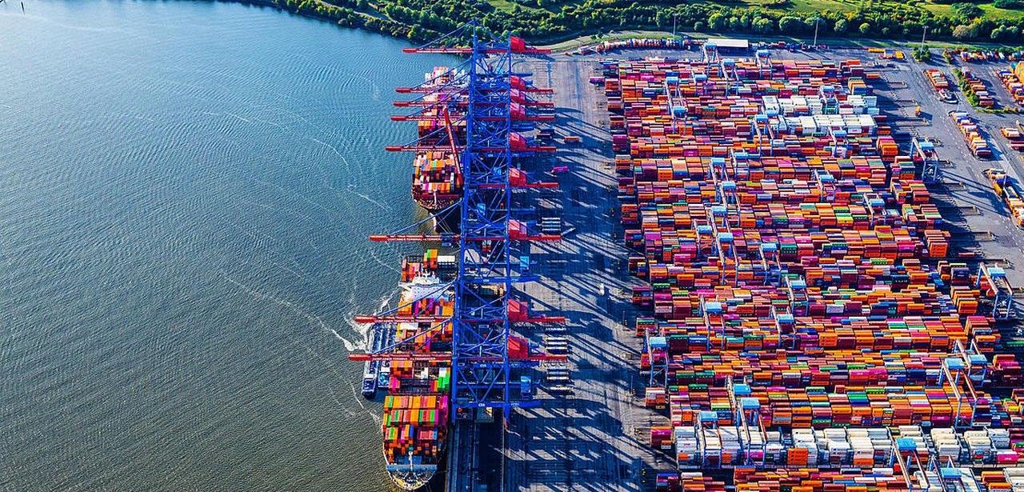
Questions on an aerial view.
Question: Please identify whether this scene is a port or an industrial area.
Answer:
port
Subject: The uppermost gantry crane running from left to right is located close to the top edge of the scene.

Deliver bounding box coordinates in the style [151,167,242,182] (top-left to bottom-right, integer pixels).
[402,18,551,87]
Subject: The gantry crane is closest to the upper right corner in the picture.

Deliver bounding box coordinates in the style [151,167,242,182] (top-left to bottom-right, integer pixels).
[907,138,938,182]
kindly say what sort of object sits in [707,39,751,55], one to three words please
shed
